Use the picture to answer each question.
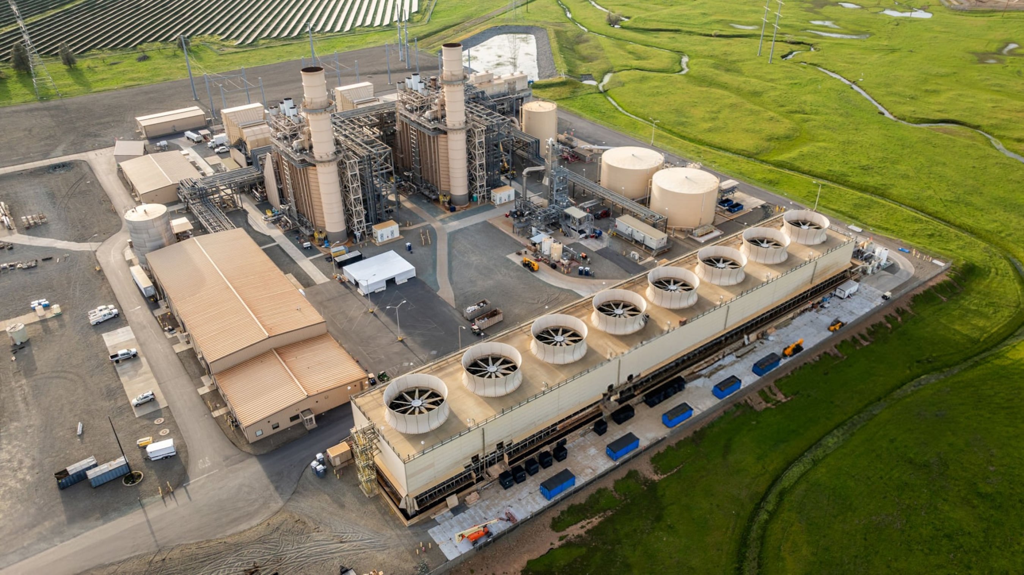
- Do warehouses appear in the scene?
Yes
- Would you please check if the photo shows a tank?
Yes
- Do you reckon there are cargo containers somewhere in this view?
Yes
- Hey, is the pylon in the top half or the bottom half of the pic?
top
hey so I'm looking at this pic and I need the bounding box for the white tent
[343,251,416,299]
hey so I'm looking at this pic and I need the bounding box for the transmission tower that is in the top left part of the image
[3,0,63,101]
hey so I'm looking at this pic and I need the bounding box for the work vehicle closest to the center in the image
[519,255,540,270]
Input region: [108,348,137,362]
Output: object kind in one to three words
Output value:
vehicle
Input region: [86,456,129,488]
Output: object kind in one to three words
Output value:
shipping container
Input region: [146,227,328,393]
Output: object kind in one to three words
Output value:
warehouse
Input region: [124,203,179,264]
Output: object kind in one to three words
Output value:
silo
